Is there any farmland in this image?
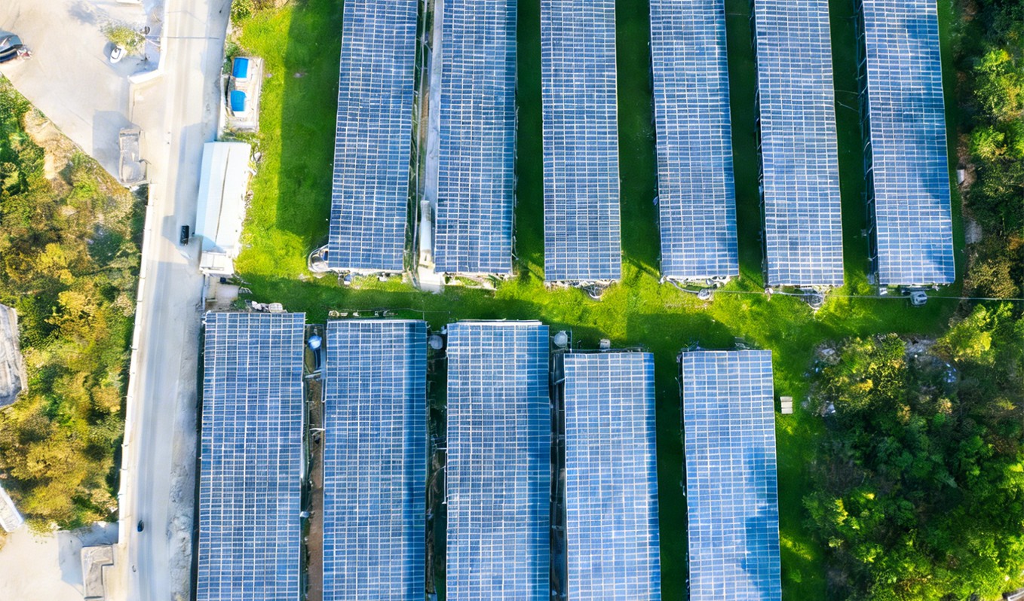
No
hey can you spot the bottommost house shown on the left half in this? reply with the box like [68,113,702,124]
[80,543,122,601]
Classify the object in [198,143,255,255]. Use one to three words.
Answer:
shed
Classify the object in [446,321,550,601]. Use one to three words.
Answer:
shed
